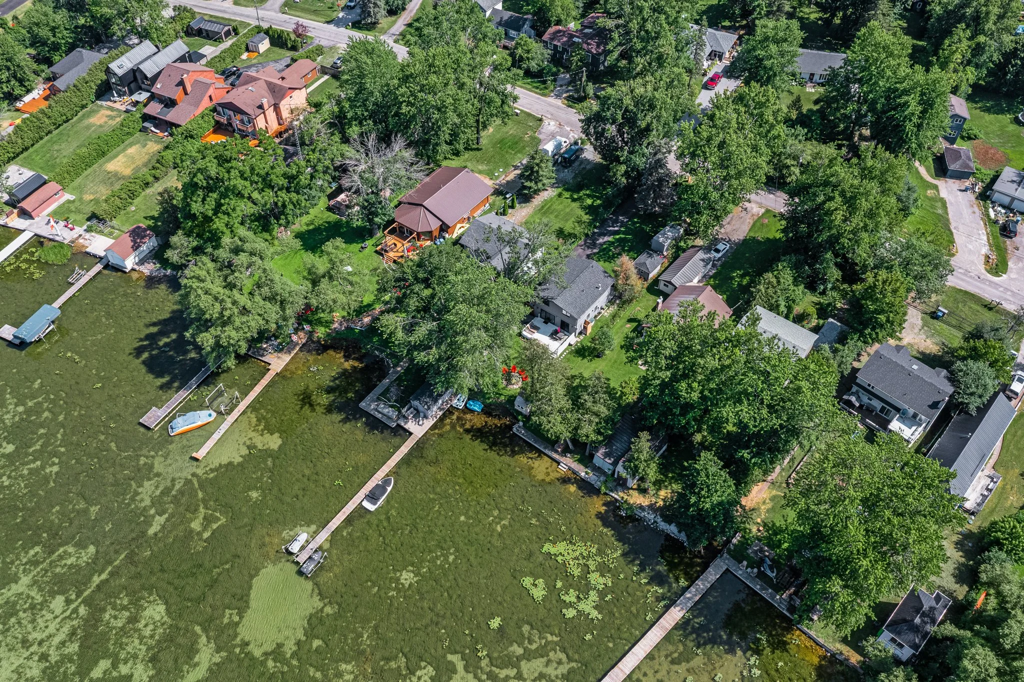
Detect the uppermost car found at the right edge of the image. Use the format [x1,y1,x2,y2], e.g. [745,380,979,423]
[1002,221,1019,241]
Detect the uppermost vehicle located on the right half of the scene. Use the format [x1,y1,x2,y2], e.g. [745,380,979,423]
[708,72,724,90]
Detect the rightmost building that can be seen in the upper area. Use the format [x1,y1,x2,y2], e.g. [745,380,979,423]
[989,165,1024,213]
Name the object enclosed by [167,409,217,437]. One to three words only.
boat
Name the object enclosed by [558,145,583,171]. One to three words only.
vehicle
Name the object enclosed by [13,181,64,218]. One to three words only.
shed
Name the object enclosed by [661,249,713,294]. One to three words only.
building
